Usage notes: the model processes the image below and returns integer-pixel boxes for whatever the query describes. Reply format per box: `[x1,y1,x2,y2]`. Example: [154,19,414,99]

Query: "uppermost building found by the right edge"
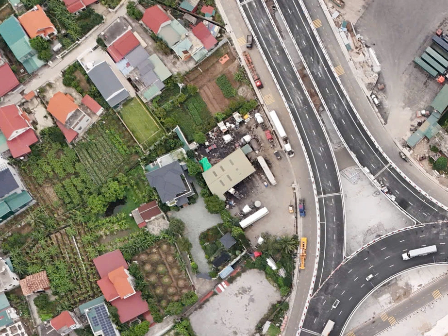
[431,83,448,116]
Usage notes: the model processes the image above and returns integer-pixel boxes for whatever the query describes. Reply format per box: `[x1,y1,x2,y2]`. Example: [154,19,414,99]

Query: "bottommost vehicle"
[321,319,335,336]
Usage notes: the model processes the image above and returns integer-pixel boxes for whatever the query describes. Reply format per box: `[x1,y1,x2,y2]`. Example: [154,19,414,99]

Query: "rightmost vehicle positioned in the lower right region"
[401,244,438,261]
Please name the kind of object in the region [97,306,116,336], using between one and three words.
solar panel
